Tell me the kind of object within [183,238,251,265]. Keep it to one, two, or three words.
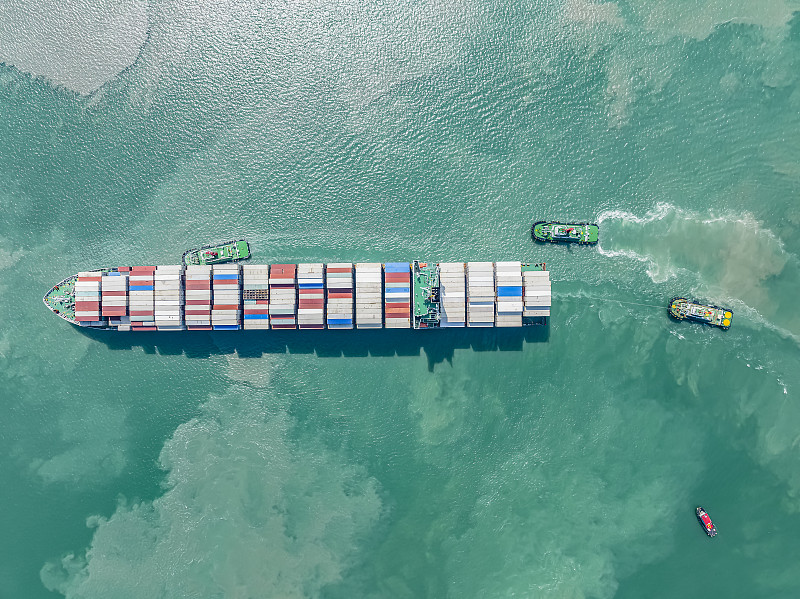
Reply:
boat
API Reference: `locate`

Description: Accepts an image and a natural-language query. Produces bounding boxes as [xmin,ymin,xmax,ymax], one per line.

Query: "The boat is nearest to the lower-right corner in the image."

[698,508,717,538]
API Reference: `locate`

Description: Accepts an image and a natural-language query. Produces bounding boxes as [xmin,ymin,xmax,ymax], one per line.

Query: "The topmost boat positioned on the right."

[531,221,598,244]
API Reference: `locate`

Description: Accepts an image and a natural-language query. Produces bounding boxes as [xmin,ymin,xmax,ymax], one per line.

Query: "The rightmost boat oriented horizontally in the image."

[666,298,733,330]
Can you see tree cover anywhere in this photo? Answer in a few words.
No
